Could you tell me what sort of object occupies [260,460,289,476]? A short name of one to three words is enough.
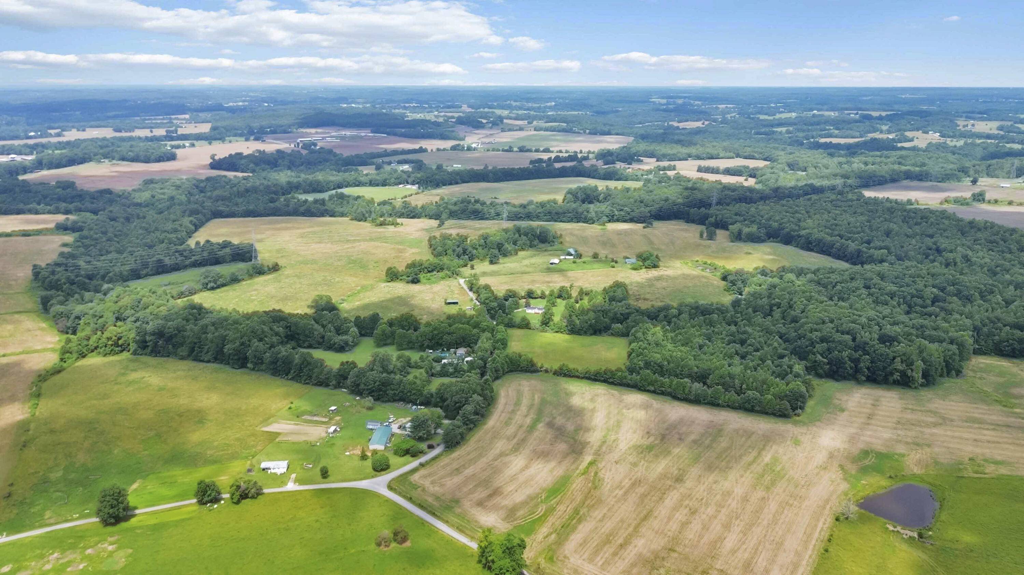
building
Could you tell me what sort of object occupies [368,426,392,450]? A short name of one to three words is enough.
building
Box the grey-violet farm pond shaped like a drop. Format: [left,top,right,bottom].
[856,483,940,527]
